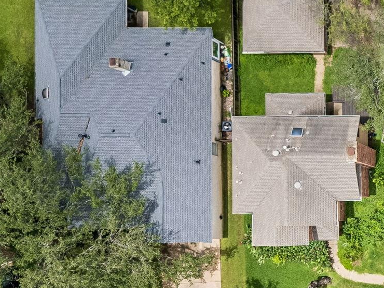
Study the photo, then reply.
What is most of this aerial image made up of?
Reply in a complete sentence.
The scene is dominated by buildings.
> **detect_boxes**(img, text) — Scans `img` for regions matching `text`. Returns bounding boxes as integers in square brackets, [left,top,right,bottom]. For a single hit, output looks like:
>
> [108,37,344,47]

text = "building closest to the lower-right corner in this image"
[231,93,379,246]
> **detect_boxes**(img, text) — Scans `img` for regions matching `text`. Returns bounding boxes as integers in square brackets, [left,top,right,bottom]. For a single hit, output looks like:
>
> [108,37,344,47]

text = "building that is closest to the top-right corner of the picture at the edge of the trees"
[242,0,329,55]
